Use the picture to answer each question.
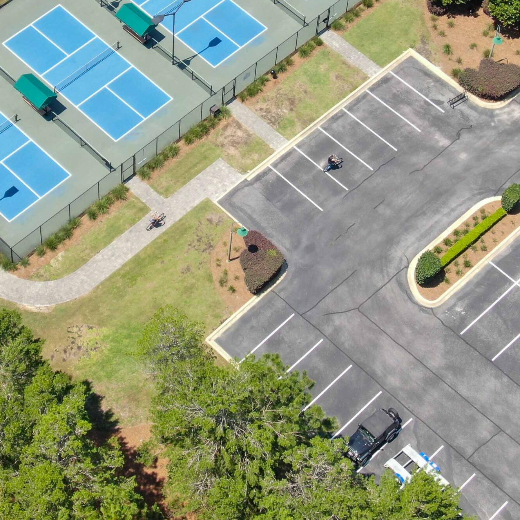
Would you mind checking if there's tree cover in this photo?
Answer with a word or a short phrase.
Yes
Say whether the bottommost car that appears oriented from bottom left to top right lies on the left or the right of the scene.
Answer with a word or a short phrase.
right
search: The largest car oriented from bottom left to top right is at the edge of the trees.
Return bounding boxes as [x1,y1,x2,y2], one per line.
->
[344,405,398,461]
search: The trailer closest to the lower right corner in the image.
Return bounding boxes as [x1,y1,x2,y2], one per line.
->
[383,444,461,515]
